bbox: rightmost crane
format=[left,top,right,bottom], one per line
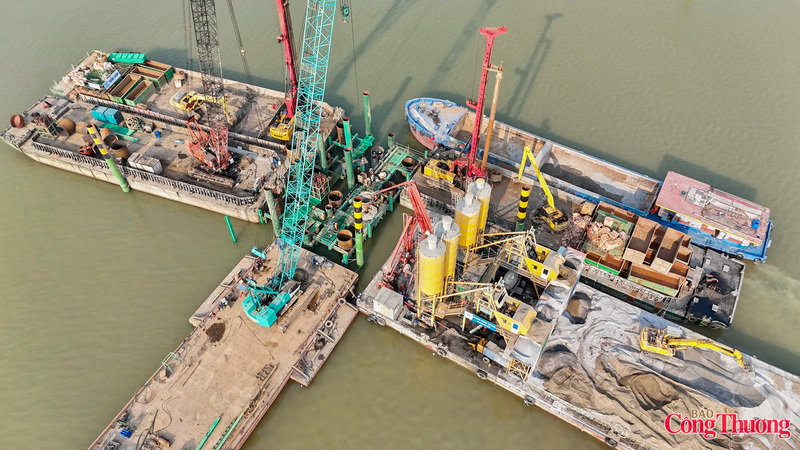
[245,0,338,338]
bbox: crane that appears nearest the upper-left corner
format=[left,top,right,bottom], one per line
[181,0,250,190]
